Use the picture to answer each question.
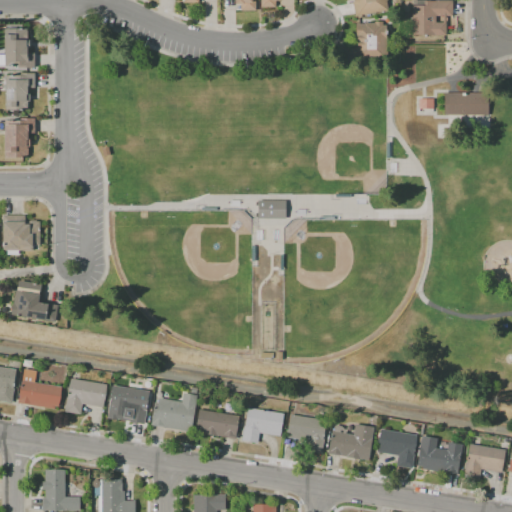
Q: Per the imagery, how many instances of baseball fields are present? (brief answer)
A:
3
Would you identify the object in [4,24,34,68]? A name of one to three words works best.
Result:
house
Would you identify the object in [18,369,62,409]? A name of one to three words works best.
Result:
house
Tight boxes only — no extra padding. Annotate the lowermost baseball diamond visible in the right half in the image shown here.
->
[285,220,426,362]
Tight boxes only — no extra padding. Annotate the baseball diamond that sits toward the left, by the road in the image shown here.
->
[110,211,252,353]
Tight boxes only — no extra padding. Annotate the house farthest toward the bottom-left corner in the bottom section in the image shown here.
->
[44,470,80,512]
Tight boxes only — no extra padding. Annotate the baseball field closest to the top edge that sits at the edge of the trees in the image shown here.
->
[272,76,387,194]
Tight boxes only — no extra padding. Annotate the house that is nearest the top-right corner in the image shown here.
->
[410,0,454,34]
